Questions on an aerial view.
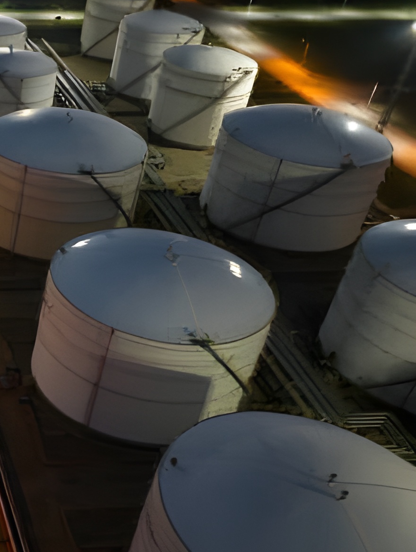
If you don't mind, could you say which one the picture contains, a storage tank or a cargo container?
storage tank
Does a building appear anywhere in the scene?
No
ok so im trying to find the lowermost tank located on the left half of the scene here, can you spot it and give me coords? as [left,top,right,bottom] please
[28,225,277,447]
